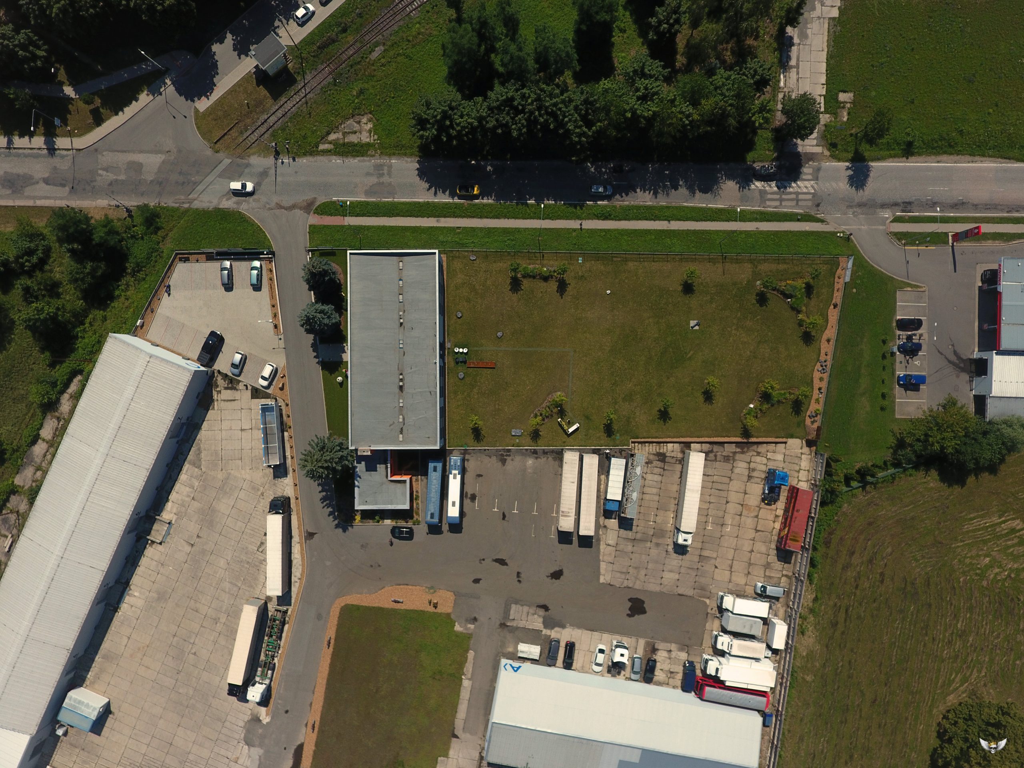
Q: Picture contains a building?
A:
Yes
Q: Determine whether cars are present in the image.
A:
Yes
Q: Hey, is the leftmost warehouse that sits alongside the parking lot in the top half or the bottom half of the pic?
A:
bottom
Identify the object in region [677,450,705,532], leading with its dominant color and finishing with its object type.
white trailer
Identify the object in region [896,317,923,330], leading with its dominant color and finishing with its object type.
black vehicle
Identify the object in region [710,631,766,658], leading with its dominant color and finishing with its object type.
white truck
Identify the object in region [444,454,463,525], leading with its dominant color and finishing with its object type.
white vehicle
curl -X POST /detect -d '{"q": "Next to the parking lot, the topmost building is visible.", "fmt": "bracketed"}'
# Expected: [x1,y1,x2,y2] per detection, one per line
[347,250,447,455]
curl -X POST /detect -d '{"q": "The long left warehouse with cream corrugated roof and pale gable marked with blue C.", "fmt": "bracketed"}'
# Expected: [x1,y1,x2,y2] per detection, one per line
[0,333,210,768]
